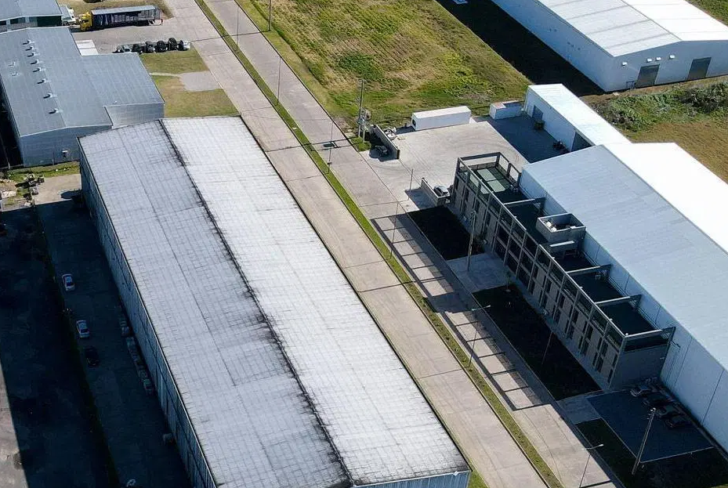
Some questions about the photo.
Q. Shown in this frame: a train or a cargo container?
cargo container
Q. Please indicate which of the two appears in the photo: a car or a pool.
car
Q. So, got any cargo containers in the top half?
Yes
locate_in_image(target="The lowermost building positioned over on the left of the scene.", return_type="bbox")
[75,114,476,488]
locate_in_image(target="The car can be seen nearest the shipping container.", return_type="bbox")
[372,133,393,151]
